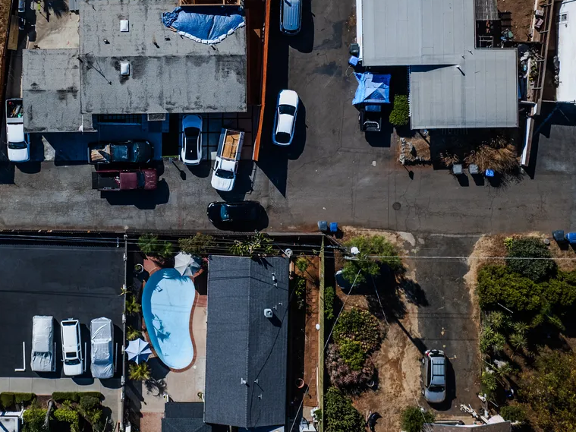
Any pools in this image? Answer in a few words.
Yes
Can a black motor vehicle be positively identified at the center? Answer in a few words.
Yes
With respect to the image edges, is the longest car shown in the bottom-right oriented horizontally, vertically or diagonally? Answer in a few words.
vertically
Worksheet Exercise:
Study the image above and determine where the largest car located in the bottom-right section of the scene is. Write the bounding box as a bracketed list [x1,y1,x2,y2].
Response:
[421,348,450,406]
